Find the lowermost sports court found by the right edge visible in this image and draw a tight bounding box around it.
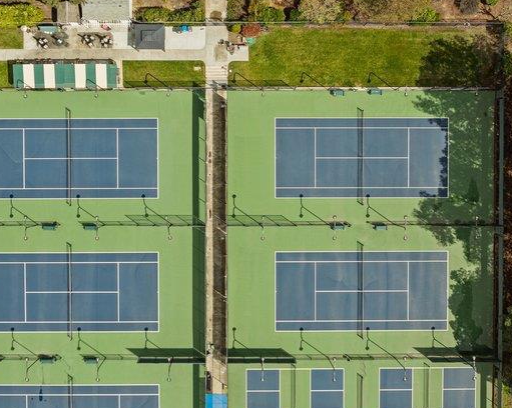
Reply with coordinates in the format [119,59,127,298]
[362,357,491,408]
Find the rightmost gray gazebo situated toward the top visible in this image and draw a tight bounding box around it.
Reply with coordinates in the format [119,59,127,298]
[134,25,166,52]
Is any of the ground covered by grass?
Yes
